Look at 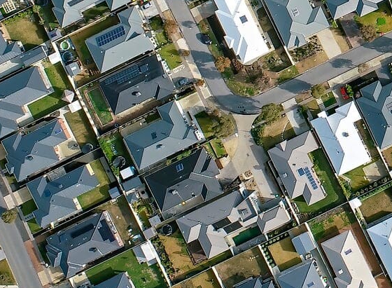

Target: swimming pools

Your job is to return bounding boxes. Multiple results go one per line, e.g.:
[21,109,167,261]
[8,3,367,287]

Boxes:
[231,226,261,249]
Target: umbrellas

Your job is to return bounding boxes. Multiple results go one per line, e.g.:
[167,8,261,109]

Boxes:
[63,89,76,102]
[68,139,79,149]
